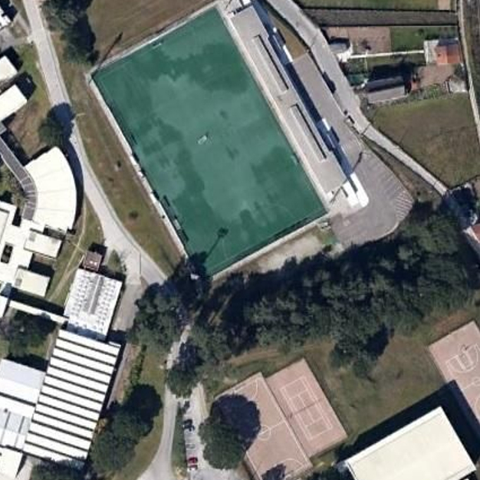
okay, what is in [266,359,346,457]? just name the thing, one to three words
tennis court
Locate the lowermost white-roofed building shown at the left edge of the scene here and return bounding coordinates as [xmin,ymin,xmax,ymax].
[0,268,122,479]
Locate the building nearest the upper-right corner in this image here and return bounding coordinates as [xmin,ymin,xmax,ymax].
[435,44,461,65]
